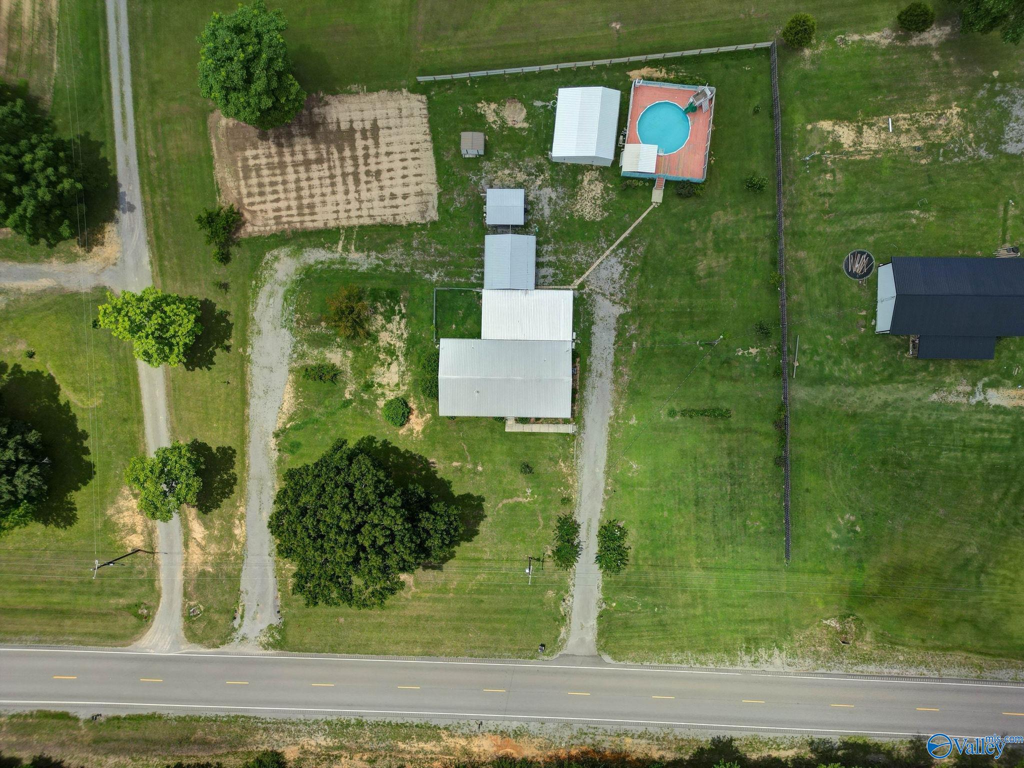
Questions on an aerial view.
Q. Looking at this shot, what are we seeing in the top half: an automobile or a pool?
pool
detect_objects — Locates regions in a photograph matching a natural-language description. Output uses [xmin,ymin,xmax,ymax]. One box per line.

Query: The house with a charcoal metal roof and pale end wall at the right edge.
[876,256,1024,360]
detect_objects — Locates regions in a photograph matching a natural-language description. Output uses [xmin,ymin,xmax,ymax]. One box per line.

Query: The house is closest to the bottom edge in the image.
[439,339,573,418]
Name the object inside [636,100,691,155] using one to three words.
swimming pool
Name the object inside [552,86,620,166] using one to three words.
barn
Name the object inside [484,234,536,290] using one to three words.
building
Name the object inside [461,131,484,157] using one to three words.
shed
